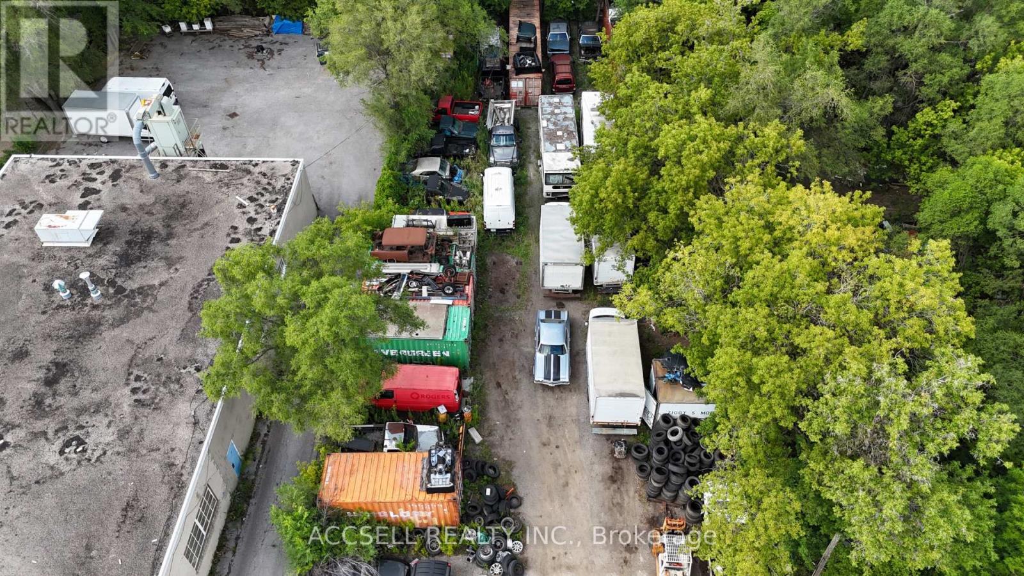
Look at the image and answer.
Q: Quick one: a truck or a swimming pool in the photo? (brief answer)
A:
truck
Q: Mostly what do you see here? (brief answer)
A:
trees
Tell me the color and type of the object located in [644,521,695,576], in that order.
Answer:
white work vehicle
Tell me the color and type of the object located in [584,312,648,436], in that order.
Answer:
white van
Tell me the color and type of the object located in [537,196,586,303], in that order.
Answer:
white truck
